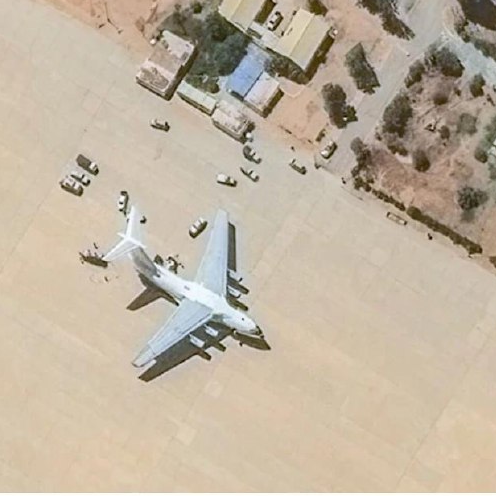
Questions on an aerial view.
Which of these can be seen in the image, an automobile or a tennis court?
automobile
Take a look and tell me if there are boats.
No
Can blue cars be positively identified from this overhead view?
No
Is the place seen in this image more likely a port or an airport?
airport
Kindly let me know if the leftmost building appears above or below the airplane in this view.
above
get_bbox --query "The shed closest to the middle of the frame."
[212,99,248,139]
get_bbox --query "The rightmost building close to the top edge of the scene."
[276,9,330,73]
